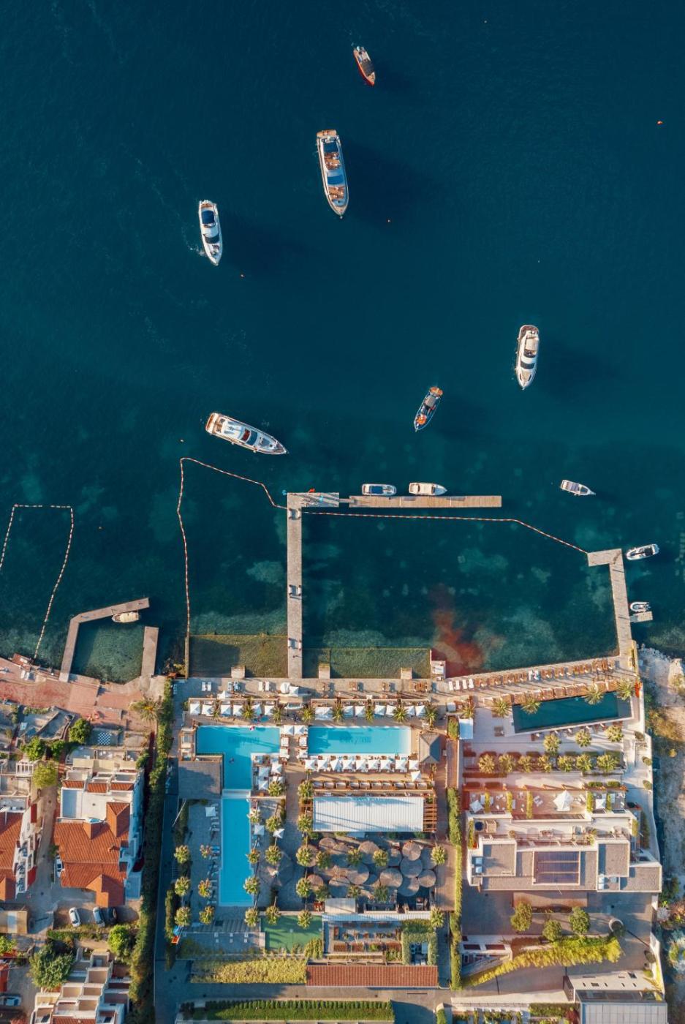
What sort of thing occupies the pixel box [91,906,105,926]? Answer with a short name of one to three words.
car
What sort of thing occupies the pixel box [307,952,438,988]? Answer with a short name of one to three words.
building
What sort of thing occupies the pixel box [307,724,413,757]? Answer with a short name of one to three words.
swimming pool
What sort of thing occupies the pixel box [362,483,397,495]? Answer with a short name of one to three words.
boat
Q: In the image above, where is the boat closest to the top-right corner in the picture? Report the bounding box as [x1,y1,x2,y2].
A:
[355,45,375,88]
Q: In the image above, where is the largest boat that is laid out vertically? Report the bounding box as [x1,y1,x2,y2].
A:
[315,133,349,218]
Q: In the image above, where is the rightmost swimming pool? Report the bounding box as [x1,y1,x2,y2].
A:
[511,690,634,732]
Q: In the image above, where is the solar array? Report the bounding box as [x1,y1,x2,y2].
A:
[532,850,581,884]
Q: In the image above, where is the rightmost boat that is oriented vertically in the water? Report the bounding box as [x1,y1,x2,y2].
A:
[514,326,538,389]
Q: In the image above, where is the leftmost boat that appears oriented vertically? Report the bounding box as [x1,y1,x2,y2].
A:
[199,203,222,266]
